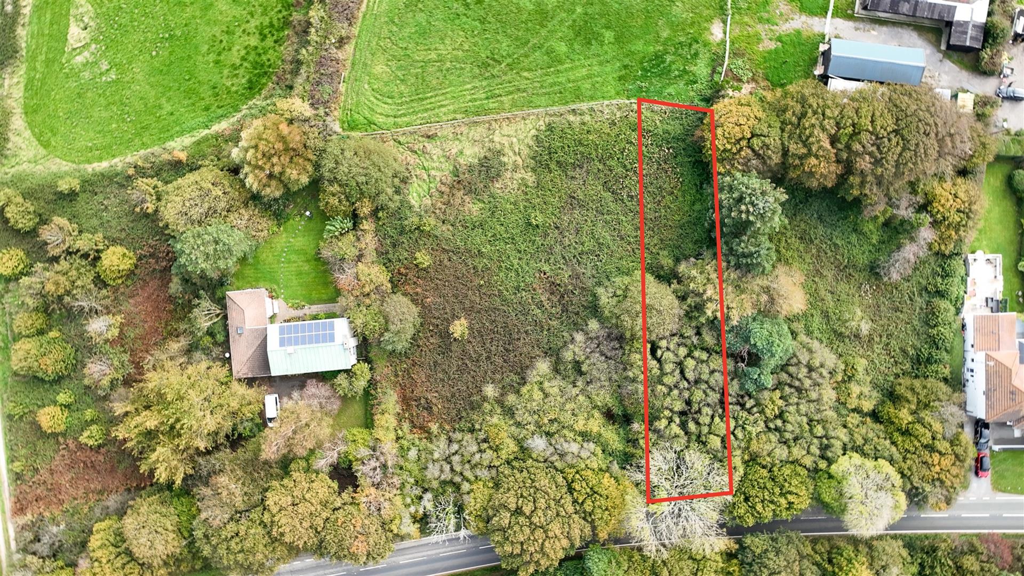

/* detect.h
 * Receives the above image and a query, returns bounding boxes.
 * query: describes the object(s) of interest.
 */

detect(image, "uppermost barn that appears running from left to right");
[863,0,989,52]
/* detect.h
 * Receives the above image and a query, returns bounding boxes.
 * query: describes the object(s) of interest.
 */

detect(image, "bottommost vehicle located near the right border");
[977,453,993,477]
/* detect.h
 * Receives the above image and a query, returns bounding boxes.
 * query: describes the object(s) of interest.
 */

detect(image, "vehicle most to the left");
[263,395,279,426]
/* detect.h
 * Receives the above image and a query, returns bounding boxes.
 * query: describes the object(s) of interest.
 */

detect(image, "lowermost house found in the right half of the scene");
[965,312,1024,439]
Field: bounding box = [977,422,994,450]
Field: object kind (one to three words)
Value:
car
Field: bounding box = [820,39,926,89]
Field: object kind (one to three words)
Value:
barn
